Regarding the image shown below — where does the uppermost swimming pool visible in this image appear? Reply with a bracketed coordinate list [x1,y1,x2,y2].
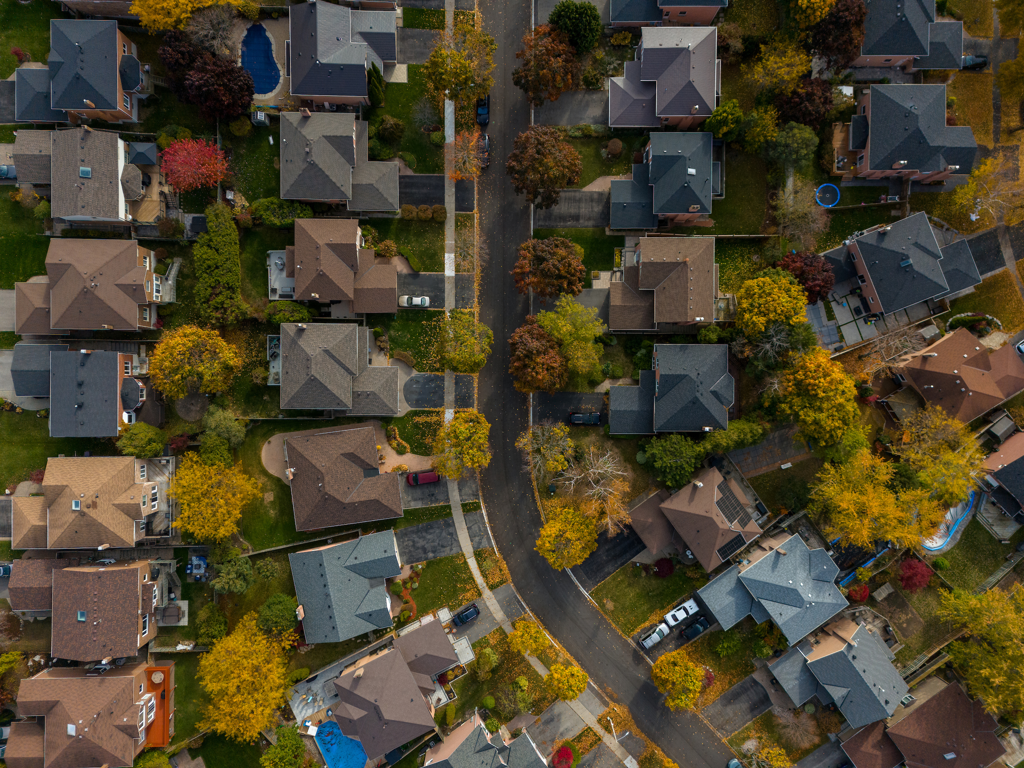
[237,19,285,99]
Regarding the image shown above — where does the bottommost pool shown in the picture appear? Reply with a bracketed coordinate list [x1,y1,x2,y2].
[312,721,372,768]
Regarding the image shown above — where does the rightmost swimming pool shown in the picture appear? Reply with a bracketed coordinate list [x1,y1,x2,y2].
[918,488,978,553]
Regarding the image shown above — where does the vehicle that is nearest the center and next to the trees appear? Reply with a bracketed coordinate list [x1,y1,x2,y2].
[570,412,600,426]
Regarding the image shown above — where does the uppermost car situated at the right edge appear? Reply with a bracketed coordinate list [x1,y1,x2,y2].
[963,54,990,70]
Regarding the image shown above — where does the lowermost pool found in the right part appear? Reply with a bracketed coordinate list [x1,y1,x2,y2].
[828,531,893,581]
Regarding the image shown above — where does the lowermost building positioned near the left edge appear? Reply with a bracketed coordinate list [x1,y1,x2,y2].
[0,666,150,768]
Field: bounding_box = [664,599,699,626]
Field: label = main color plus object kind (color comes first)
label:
white car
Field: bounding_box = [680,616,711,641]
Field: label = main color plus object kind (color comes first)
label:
black car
